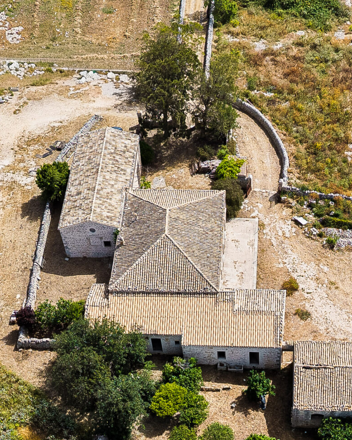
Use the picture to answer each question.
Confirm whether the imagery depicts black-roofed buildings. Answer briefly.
No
